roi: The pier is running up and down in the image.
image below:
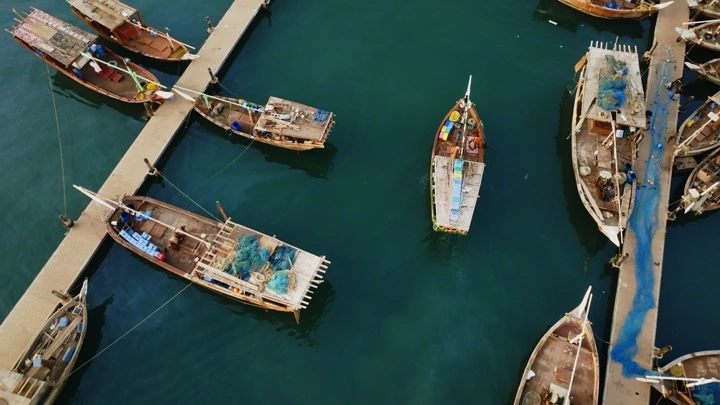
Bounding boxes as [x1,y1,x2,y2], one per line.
[600,0,689,405]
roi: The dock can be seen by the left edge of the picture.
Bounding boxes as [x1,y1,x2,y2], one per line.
[0,0,263,380]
